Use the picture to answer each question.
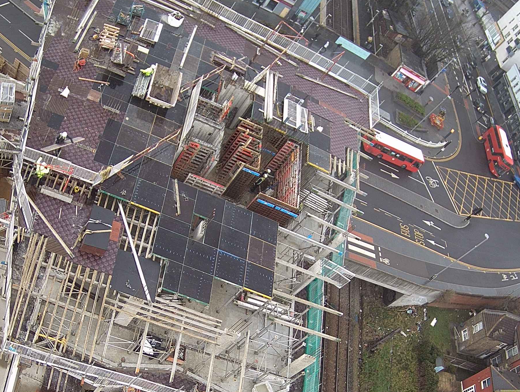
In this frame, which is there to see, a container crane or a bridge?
bridge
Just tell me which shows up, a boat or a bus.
bus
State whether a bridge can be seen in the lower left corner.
No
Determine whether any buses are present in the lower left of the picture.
No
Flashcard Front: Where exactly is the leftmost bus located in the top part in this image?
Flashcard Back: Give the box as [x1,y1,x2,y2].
[364,134,428,172]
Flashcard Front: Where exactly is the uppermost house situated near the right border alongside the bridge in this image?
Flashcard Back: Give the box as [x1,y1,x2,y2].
[455,309,520,379]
